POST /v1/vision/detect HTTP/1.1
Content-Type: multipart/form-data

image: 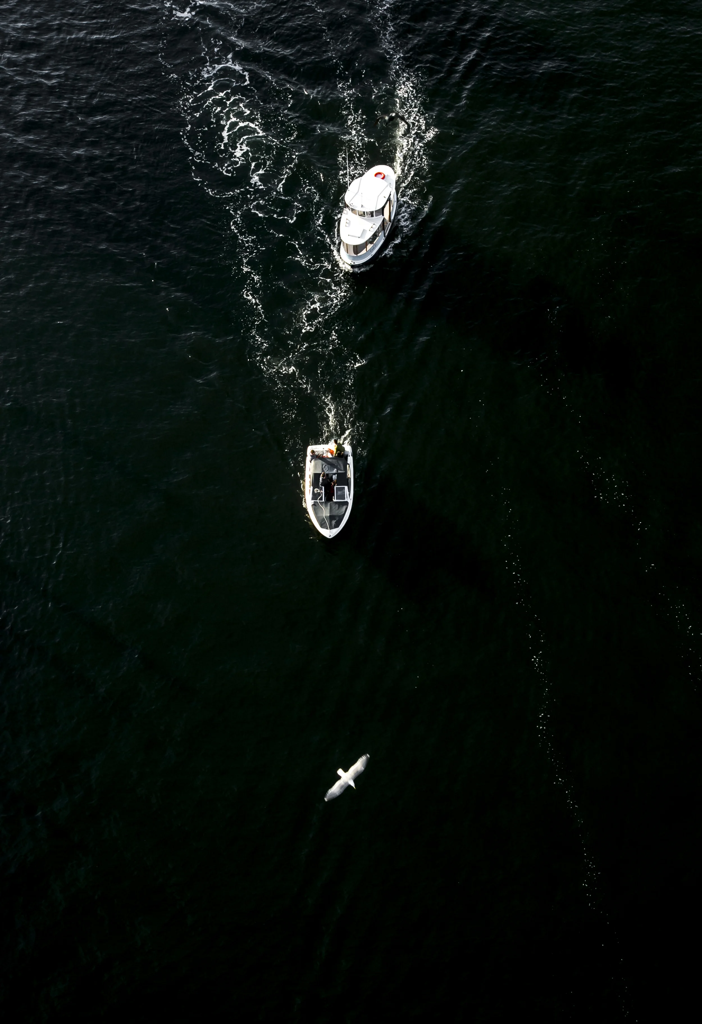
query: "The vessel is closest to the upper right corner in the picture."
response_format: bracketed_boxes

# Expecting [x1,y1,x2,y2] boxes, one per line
[341,155,397,270]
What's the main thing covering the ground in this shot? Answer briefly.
water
